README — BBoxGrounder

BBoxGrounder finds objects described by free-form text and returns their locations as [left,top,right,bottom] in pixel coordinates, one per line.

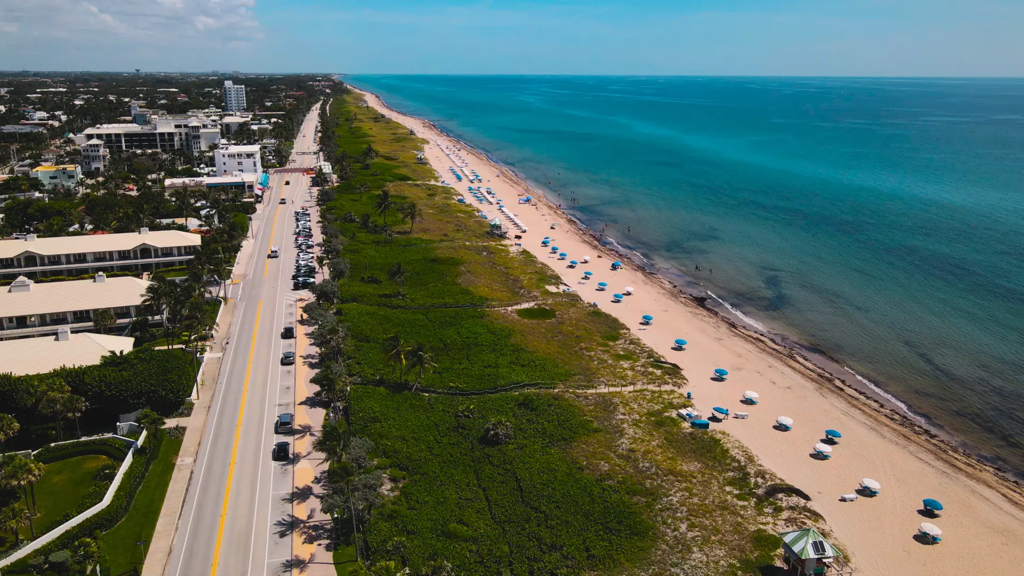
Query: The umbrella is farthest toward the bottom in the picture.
[919,524,943,546]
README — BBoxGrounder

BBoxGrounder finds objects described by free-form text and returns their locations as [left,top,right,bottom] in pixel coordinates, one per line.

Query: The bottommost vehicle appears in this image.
[274,434,293,457]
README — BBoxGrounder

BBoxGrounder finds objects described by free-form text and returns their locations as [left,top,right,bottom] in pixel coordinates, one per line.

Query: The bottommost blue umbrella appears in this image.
[922,500,944,519]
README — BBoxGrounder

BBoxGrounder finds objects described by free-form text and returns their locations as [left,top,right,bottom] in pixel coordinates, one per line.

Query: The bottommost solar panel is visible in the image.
[806,533,826,554]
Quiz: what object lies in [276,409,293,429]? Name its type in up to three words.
car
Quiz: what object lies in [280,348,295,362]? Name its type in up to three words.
car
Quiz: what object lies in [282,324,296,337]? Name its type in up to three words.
vehicle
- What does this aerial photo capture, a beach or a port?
beach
